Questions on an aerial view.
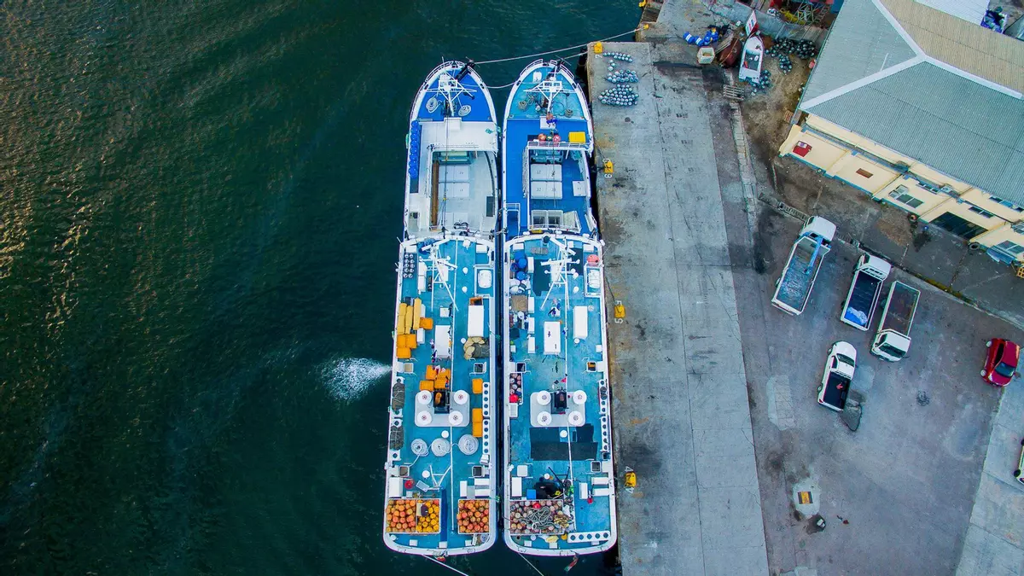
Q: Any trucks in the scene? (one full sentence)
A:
Yes, looking at the shot, I can spot a truck.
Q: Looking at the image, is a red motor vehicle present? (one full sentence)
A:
Yes, this view includes a red motor vehicle.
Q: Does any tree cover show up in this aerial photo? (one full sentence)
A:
No, there is no tree cover in the image.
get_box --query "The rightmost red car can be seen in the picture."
[979,334,1024,386]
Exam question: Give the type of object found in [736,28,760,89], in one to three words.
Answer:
boat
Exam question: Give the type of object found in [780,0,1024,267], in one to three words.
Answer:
warehouse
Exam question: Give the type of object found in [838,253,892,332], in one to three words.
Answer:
truck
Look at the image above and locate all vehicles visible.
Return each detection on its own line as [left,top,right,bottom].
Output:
[867,283,920,367]
[769,216,839,318]
[838,253,892,332]
[814,341,857,417]
[979,334,1024,386]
